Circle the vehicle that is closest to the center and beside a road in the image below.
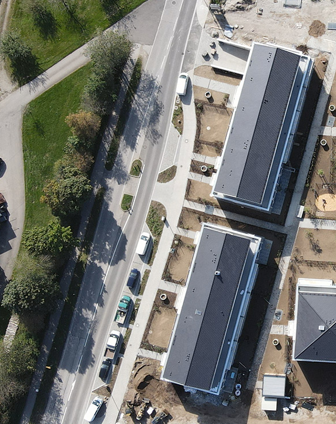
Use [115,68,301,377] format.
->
[135,231,151,257]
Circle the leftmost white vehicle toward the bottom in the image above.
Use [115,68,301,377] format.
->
[84,396,103,422]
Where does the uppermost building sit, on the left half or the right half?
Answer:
right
